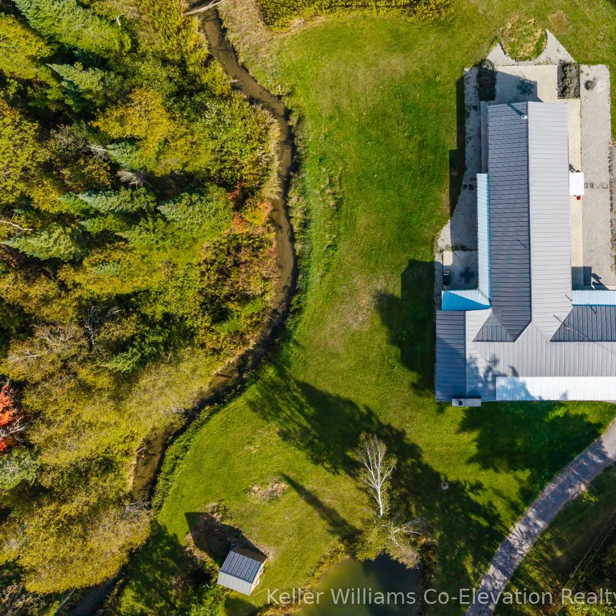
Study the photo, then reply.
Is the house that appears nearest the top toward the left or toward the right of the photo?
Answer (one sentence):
The house that appears nearest the top appears in the right half of the scene.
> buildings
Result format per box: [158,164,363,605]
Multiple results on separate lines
[435,99,616,410]
[211,541,269,603]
